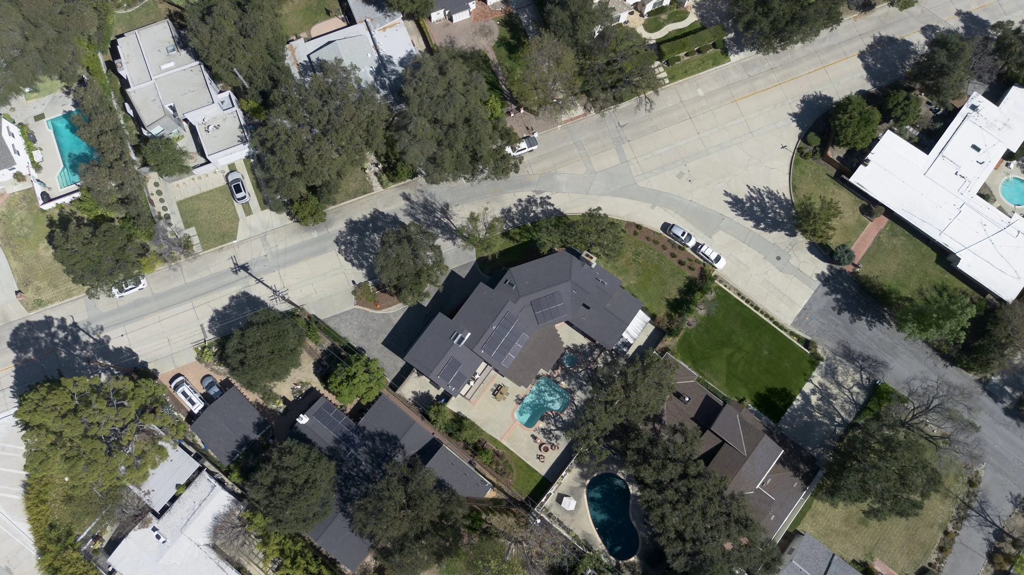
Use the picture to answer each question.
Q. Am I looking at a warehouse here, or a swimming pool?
swimming pool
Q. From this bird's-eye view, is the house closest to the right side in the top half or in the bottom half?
top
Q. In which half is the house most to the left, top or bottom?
top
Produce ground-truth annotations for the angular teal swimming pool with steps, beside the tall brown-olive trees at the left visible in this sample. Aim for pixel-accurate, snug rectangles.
[43,104,109,191]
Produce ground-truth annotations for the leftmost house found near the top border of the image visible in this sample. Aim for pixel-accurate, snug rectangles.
[113,19,259,168]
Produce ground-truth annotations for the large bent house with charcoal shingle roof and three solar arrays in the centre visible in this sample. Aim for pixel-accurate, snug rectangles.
[405,249,643,397]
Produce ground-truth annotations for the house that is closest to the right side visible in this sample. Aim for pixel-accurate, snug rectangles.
[849,86,1024,303]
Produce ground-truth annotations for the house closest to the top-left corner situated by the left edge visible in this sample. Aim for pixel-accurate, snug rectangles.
[0,116,38,193]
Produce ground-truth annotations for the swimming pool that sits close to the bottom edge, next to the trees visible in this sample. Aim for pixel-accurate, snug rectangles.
[584,470,642,562]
